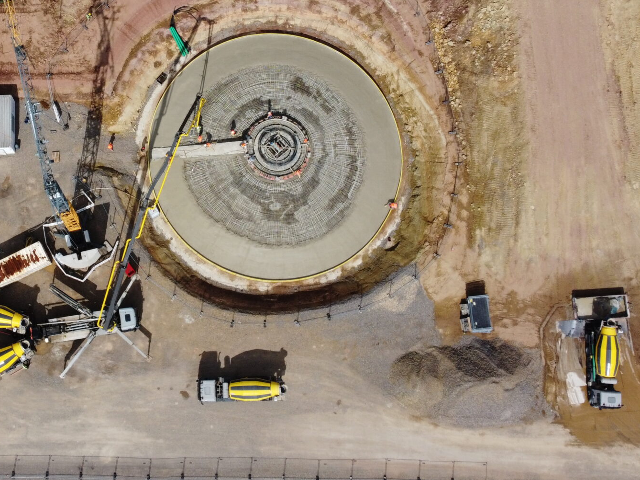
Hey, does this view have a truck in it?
Yes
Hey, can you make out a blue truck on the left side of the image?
No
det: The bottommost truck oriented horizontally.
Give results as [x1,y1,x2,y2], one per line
[195,373,287,406]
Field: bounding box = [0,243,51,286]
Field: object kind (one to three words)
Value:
shipping container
